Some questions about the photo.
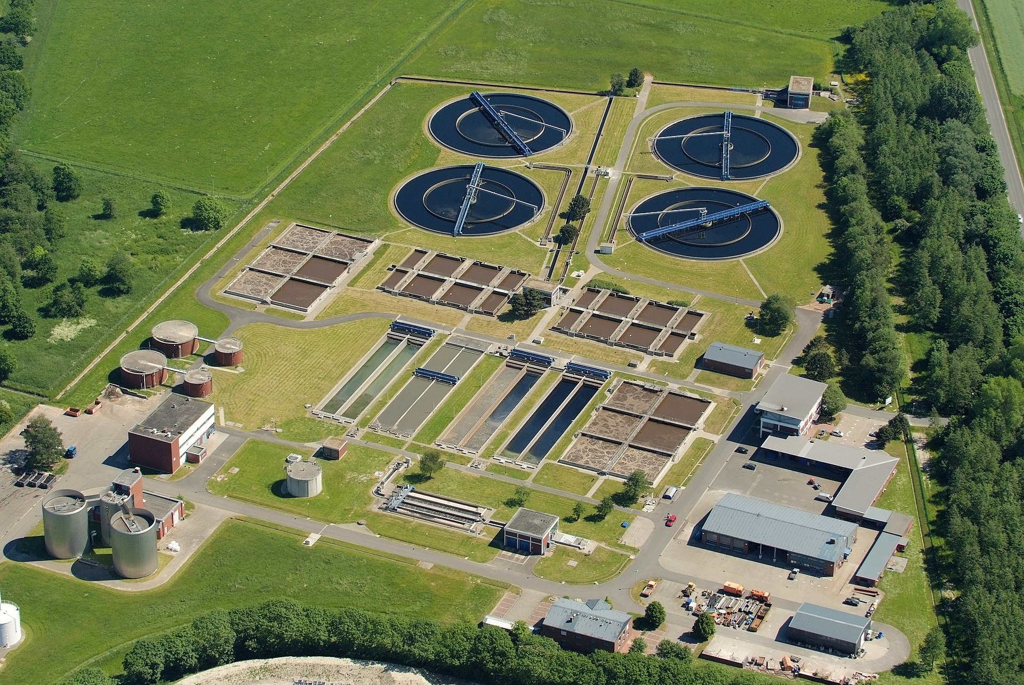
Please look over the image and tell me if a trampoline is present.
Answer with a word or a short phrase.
No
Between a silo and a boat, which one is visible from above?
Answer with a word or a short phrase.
silo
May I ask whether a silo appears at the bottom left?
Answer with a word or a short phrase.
Yes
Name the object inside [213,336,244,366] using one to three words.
storage tank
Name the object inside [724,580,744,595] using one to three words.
vehicle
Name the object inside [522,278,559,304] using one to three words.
building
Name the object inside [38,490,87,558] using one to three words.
silo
